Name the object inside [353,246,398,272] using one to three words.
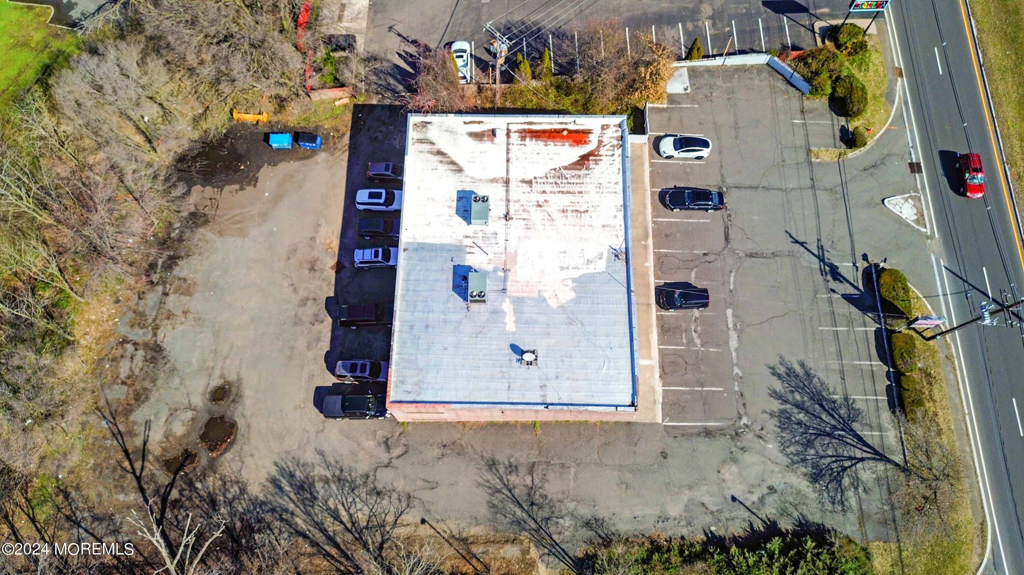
car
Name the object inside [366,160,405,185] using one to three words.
car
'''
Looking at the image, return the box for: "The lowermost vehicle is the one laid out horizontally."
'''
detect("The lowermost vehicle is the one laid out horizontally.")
[322,394,394,423]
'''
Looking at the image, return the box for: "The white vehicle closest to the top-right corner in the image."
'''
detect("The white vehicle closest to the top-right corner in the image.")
[659,133,712,159]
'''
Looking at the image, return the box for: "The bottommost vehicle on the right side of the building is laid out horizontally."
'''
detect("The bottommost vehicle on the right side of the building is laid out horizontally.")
[659,285,711,311]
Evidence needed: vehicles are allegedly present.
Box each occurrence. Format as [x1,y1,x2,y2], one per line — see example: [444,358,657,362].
[665,187,724,213]
[353,246,398,272]
[659,133,712,159]
[334,358,389,386]
[322,394,394,423]
[955,151,987,200]
[449,42,473,86]
[336,303,394,332]
[357,216,400,243]
[659,285,711,311]
[354,188,402,215]
[366,160,405,185]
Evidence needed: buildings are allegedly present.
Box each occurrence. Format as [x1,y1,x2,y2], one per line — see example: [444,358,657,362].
[385,115,637,425]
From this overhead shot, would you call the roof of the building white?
Yes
